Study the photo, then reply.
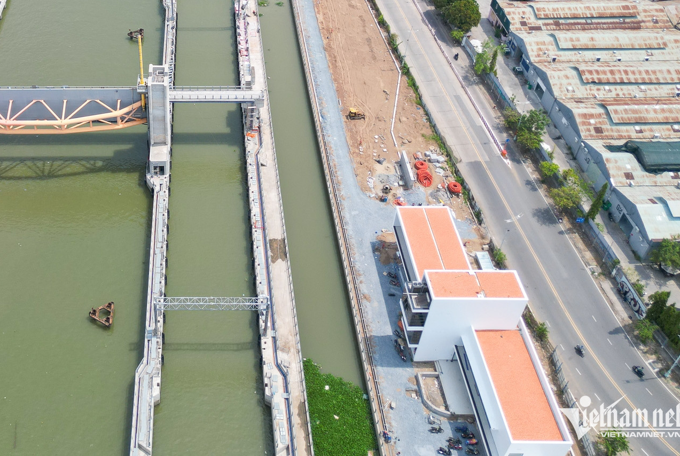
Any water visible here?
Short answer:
Yes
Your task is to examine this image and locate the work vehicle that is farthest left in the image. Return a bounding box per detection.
[350,109,365,122]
